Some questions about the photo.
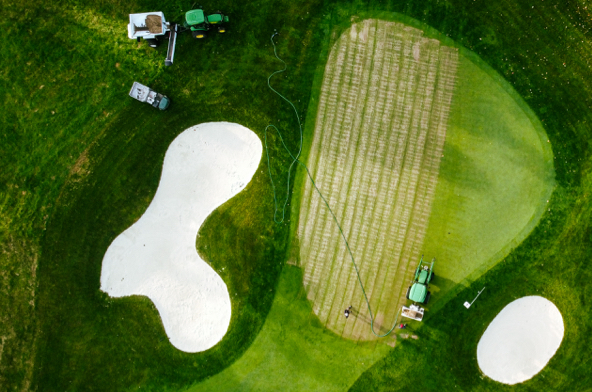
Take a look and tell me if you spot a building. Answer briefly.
No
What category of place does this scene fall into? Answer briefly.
golf course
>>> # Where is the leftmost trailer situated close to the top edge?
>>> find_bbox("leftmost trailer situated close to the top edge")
[128,12,185,68]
